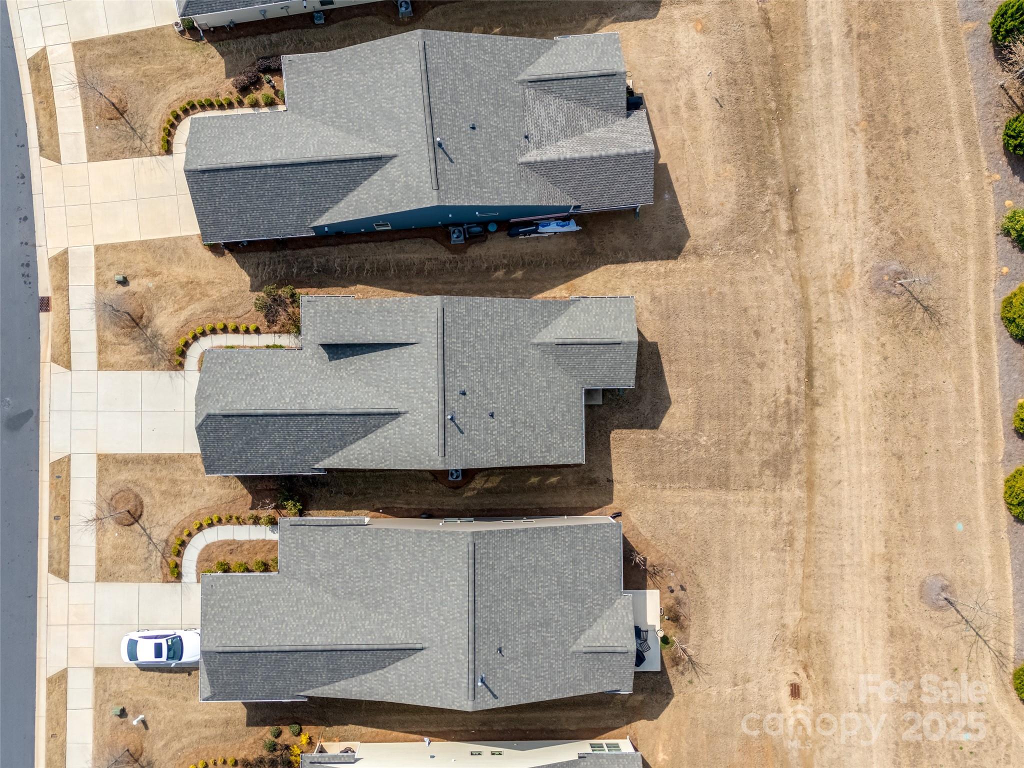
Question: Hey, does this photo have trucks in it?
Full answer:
No, I can see no truck in this picture.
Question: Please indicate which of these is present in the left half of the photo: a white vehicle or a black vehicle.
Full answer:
The feature located in the left half of the photo is a white vehicle.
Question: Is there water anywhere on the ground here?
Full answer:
No, there is no water in the image.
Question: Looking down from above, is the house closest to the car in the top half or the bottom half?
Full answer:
You can find the house closest to the car in the bottom half.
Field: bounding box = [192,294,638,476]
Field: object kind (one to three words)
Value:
house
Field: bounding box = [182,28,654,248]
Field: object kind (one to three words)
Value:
house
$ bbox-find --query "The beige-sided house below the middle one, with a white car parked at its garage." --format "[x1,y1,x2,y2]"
[199,512,636,713]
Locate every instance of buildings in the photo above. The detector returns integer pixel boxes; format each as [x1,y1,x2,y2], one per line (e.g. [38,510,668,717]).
[175,0,388,42]
[192,294,638,476]
[298,738,642,768]
[182,28,654,248]
[199,512,636,713]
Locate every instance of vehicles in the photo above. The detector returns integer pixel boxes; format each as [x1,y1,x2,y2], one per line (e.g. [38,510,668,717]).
[120,628,199,668]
